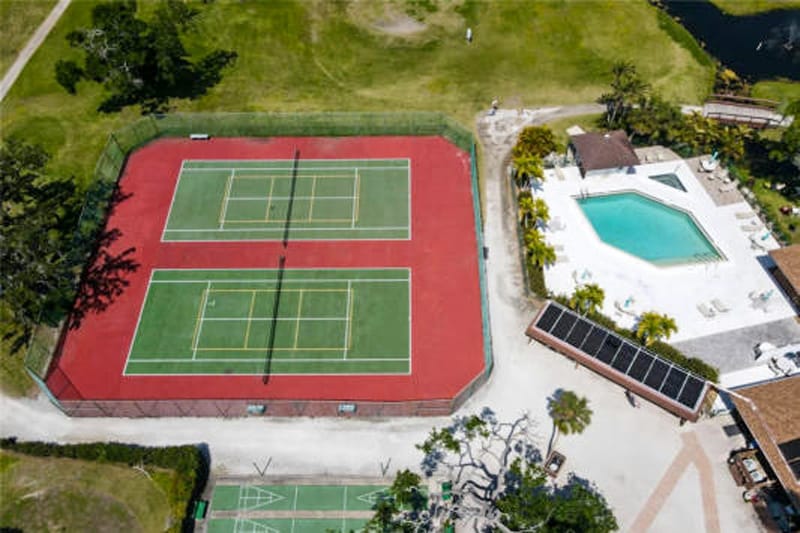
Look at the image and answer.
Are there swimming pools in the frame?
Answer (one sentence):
Yes, there is a swimming pool in the image.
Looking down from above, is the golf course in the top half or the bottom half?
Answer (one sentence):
The top half of the photo is where the golf course is.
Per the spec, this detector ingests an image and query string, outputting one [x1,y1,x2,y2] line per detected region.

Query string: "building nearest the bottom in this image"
[709,371,800,503]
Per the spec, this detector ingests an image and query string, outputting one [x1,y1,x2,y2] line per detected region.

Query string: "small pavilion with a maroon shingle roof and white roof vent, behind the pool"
[566,131,640,184]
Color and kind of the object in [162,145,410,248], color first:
green tennis court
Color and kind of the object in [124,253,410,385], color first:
green tennis court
